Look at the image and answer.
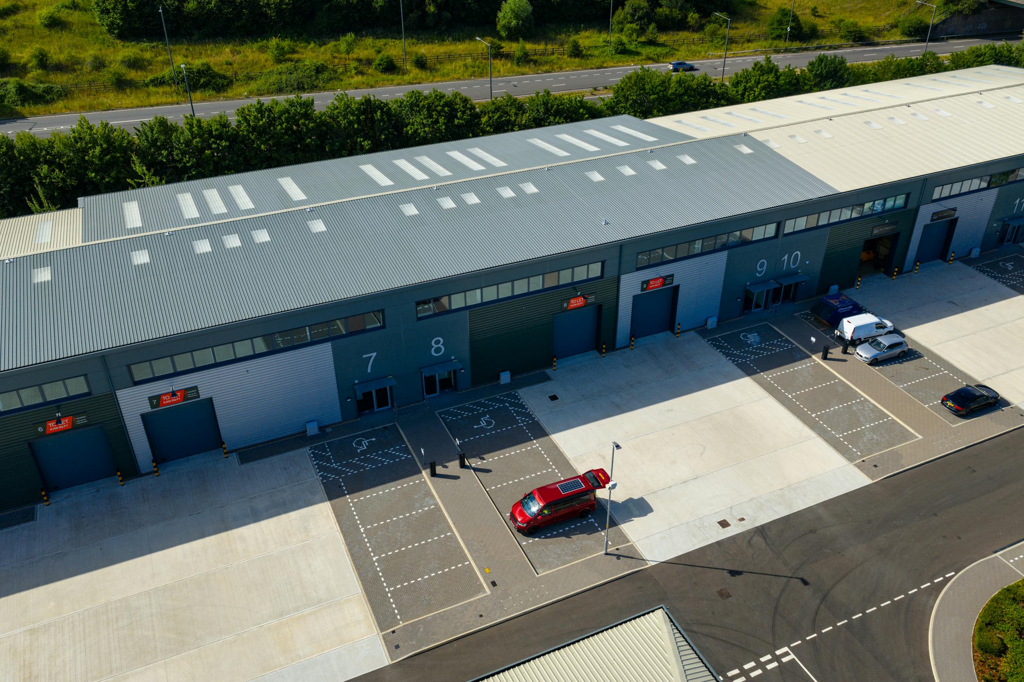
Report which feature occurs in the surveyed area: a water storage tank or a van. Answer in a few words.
van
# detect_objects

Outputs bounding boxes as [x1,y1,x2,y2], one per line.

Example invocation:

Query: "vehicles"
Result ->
[944,381,1011,416]
[667,58,697,71]
[837,311,897,345]
[858,331,917,364]
[506,465,611,538]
